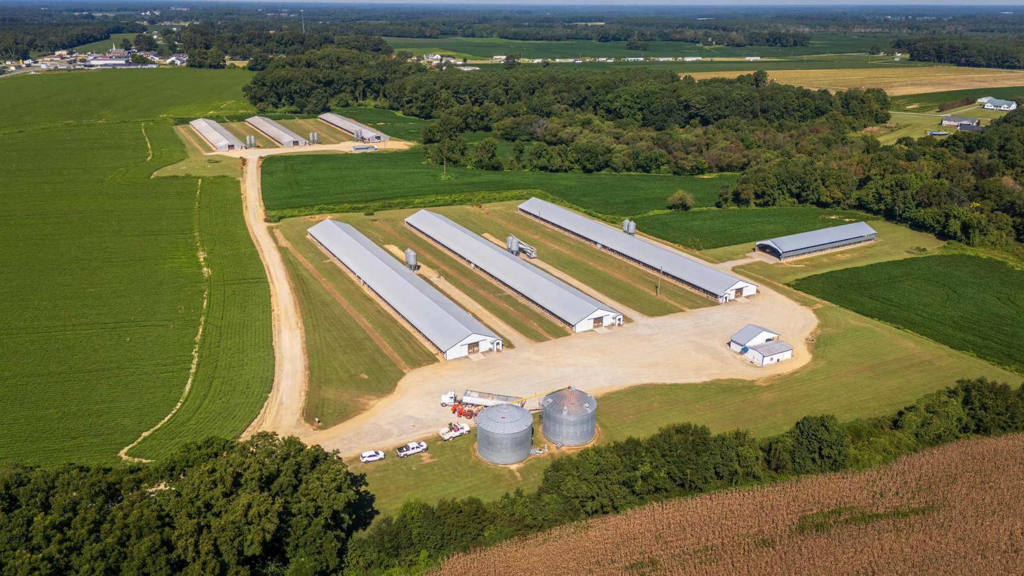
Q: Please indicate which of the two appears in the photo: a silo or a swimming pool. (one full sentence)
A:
The image shows a silo.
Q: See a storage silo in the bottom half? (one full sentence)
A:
Yes, a storage silo shows up in the bottom half.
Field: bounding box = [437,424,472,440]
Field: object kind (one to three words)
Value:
vehicle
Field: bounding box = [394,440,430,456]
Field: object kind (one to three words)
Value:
vehicle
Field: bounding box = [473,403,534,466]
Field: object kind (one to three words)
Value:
silo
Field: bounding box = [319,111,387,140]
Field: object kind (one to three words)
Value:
house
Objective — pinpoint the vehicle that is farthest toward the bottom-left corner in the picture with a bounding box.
[359,447,388,461]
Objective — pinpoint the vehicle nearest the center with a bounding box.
[515,232,538,256]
